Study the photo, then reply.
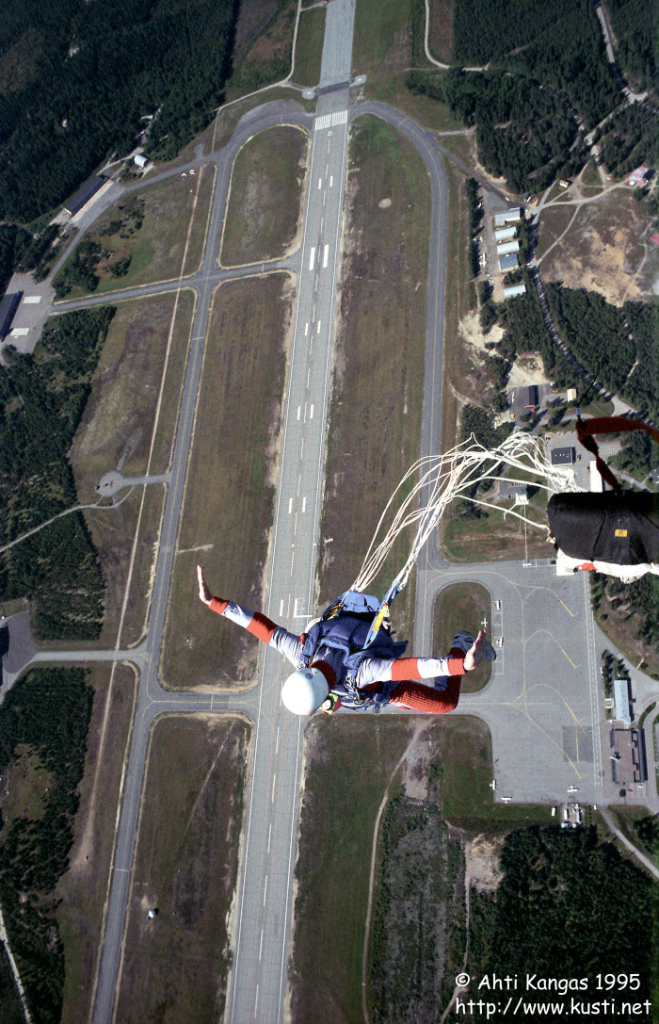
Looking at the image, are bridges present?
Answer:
No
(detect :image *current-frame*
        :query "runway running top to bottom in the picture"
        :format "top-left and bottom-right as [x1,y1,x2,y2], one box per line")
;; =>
[228,93,350,1024]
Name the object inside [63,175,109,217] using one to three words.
hangar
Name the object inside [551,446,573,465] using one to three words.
building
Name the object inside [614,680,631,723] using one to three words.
building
